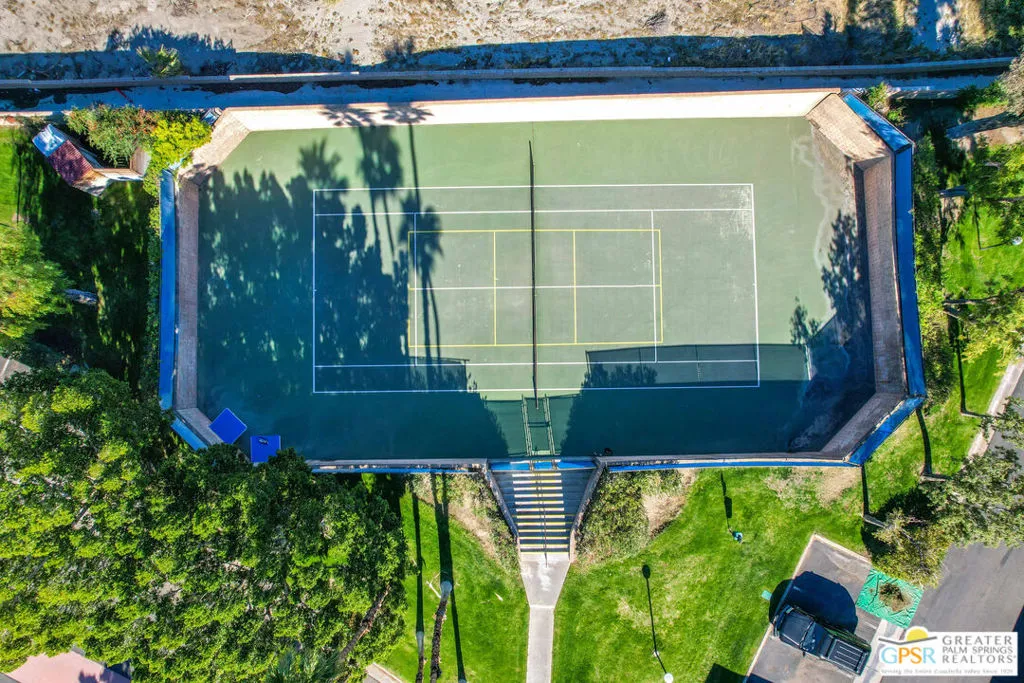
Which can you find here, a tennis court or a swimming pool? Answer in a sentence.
Of the two, only a tennis court appears.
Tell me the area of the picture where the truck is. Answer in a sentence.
The truck sits in the bottom right section of the image.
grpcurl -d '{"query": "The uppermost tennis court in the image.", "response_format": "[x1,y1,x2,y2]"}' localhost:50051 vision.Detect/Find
[197,117,875,462]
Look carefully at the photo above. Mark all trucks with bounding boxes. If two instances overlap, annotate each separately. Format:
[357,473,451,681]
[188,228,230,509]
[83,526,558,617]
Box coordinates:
[764,601,875,683]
